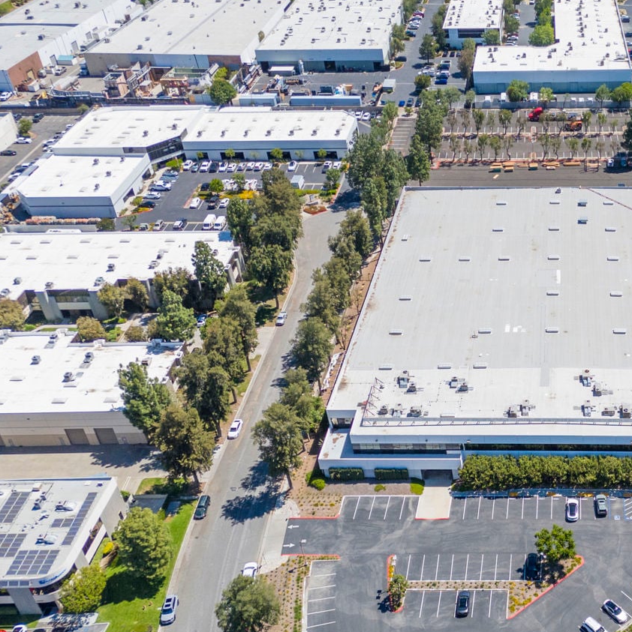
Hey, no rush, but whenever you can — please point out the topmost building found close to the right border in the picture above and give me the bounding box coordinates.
[473,0,631,93]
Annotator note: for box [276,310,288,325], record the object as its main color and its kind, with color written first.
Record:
white vehicle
